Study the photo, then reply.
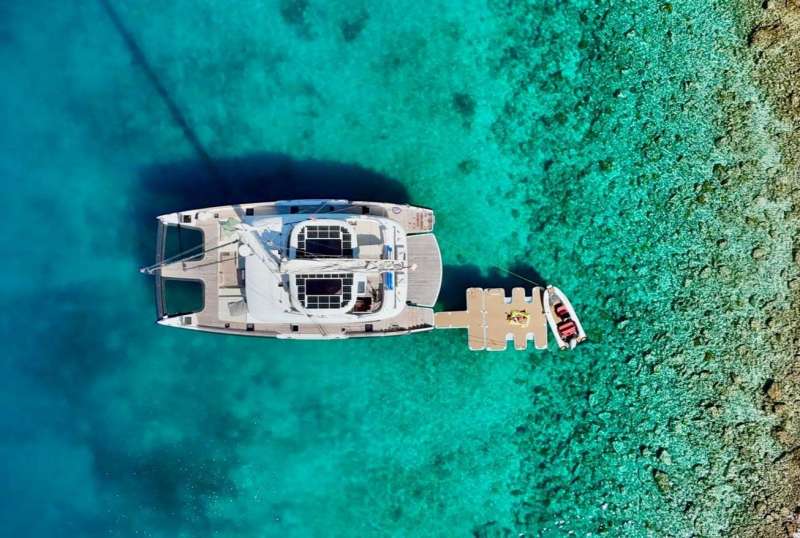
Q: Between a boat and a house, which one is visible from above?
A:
boat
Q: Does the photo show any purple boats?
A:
No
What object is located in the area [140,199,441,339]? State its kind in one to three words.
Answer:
boat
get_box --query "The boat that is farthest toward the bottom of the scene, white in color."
[542,286,587,352]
